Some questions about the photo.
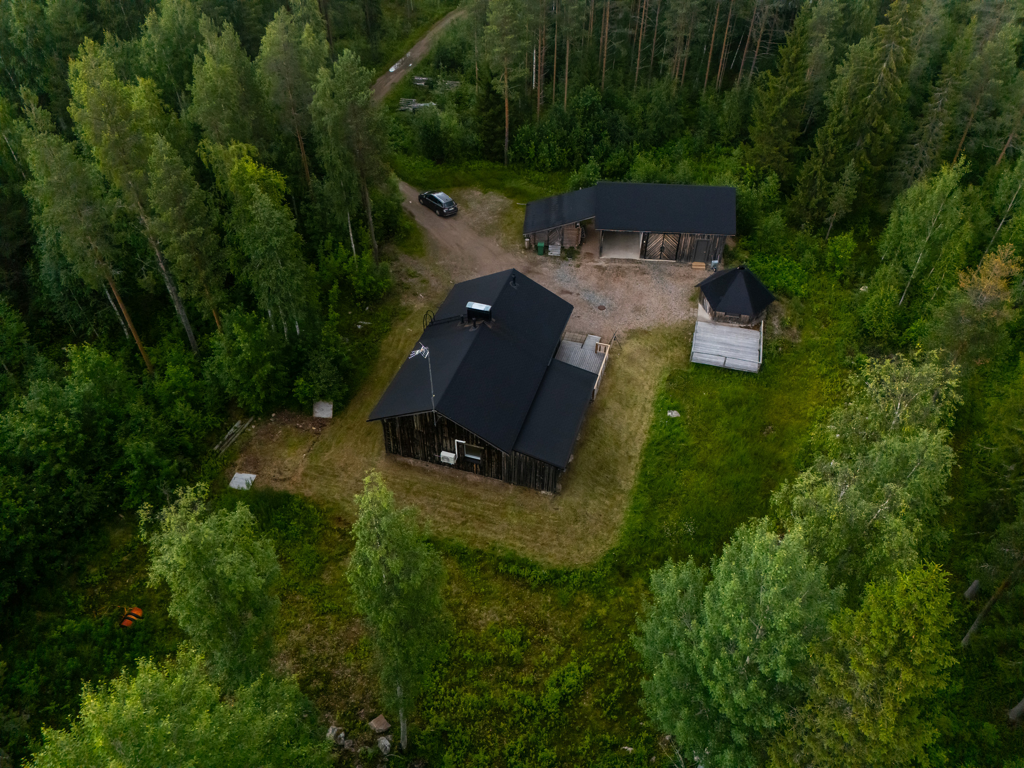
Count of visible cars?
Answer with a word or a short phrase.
1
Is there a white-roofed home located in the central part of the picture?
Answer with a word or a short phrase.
No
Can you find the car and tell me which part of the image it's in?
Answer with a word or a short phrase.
top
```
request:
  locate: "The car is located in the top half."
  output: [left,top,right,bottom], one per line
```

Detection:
[419,192,454,215]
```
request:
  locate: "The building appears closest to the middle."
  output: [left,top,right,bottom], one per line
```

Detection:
[366,269,598,493]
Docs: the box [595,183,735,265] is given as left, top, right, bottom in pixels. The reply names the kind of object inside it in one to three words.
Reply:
building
